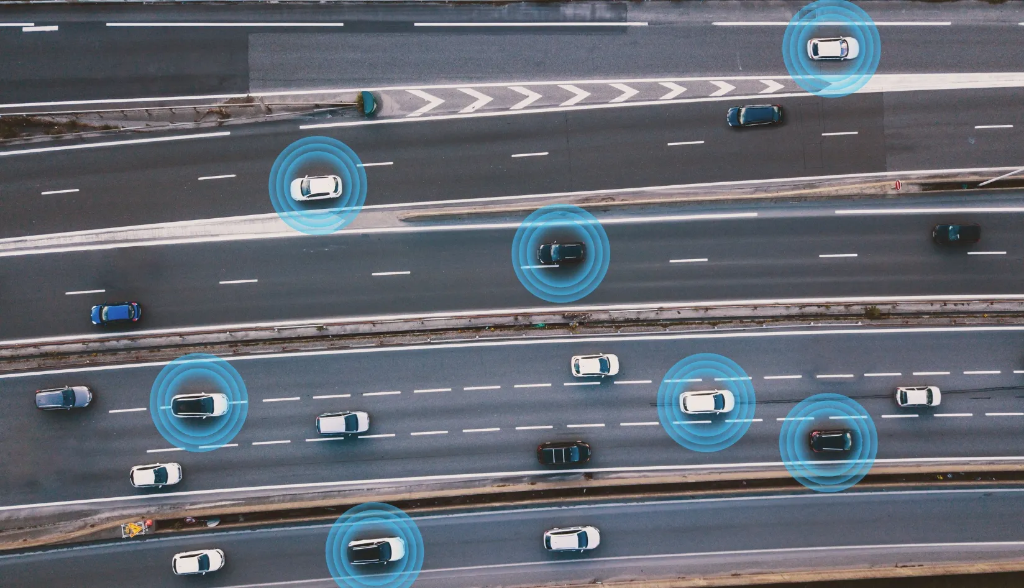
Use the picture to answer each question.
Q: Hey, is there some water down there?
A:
No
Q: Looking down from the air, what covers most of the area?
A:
paved ground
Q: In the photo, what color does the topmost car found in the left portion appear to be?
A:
white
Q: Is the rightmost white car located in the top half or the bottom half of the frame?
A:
bottom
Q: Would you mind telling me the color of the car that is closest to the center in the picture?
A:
black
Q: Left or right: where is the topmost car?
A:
right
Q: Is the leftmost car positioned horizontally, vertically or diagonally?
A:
horizontally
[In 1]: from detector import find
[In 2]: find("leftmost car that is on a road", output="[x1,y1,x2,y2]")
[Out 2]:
[36,383,94,410]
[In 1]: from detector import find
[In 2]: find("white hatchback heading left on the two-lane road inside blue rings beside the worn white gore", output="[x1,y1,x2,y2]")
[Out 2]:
[292,174,343,201]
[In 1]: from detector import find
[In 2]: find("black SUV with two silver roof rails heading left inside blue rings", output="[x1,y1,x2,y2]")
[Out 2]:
[537,239,586,265]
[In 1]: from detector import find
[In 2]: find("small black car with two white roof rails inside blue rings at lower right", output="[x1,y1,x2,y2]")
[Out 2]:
[808,429,851,455]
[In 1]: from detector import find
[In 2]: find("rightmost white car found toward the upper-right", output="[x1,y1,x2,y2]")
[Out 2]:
[807,33,859,61]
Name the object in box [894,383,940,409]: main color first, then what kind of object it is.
white car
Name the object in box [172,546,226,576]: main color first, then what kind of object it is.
white car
